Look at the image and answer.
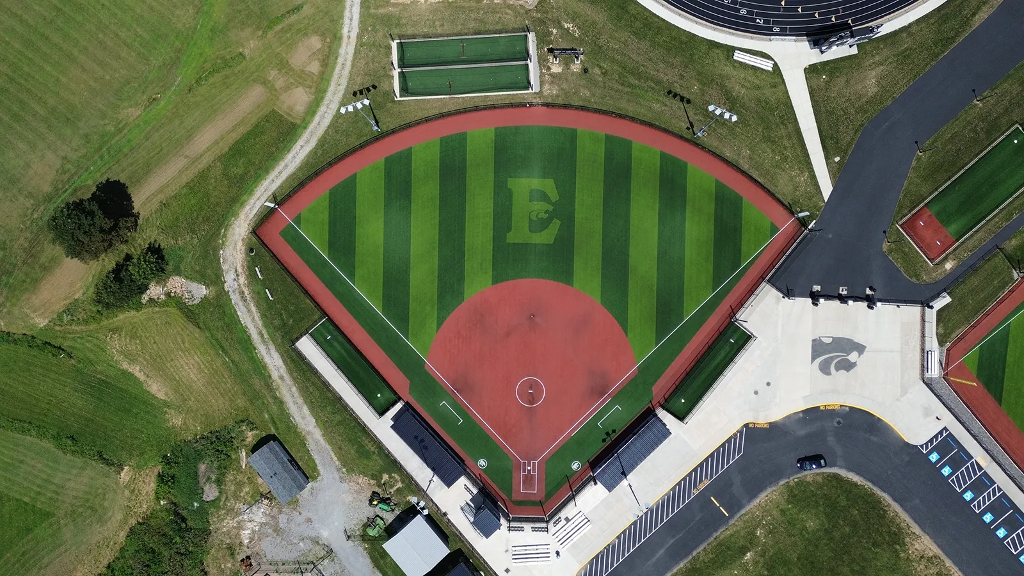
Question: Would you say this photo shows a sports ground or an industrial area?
sports ground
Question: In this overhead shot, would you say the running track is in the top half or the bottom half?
top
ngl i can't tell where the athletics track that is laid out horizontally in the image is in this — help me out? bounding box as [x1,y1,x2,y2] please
[658,0,924,40]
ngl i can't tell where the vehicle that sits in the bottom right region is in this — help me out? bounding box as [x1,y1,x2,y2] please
[798,456,826,471]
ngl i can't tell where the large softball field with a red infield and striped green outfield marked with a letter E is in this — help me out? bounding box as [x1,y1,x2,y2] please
[255,106,804,516]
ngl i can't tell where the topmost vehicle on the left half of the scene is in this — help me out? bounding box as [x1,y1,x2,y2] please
[368,495,396,515]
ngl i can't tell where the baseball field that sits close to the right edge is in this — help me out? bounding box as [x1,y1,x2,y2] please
[943,279,1024,469]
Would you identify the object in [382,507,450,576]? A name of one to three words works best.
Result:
building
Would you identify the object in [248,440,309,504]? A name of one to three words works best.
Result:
shed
